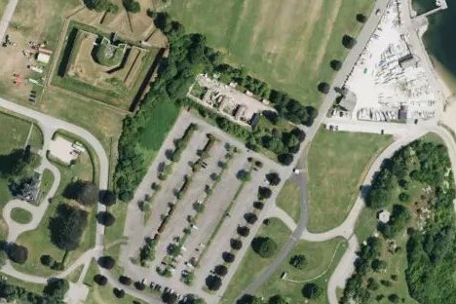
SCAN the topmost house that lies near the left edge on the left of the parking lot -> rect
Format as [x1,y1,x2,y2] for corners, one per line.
[19,174,40,205]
